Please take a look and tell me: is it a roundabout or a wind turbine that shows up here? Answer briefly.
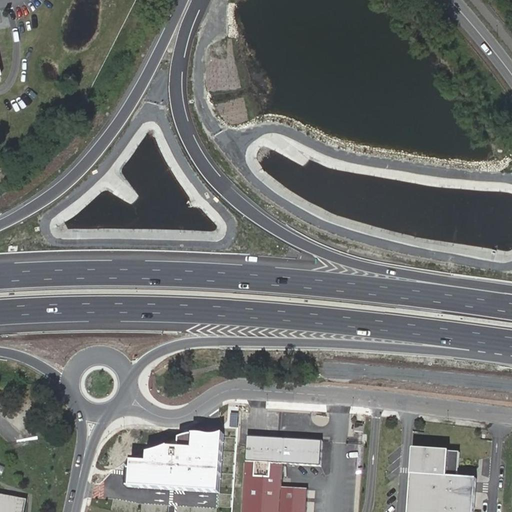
roundabout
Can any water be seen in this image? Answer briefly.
Yes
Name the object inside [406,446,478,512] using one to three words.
building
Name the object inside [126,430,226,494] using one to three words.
building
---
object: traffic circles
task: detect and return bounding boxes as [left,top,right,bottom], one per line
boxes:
[61,346,138,422]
